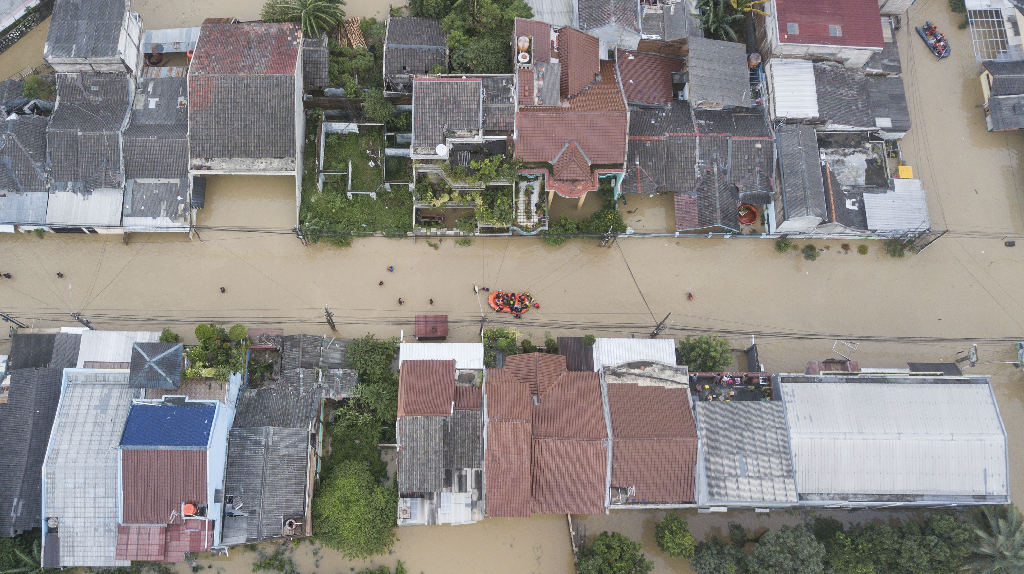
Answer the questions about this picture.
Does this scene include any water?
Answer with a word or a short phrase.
Yes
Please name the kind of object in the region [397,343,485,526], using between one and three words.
house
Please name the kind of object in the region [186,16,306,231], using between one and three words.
house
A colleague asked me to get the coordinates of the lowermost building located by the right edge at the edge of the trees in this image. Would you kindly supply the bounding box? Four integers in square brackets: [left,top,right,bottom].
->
[770,371,1011,510]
